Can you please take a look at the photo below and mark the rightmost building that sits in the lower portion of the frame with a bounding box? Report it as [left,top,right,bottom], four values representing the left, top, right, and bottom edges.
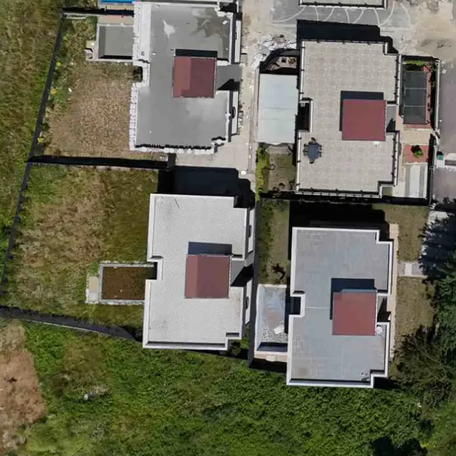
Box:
[287,216,400,388]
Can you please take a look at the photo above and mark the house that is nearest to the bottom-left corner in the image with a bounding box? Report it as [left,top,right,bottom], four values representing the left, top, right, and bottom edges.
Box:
[142,185,259,350]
